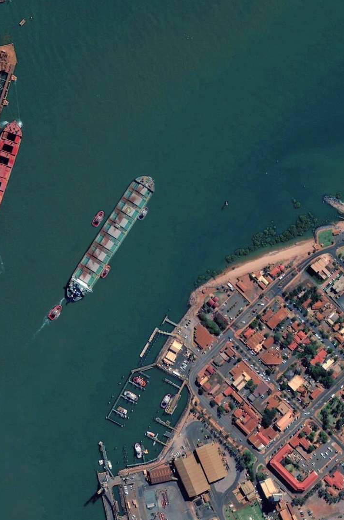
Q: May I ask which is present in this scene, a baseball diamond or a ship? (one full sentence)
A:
I can see a ship in this picture.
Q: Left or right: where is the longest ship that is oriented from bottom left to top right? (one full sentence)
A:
It is on the left.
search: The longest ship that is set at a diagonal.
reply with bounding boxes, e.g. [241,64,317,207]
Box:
[61,173,150,305]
